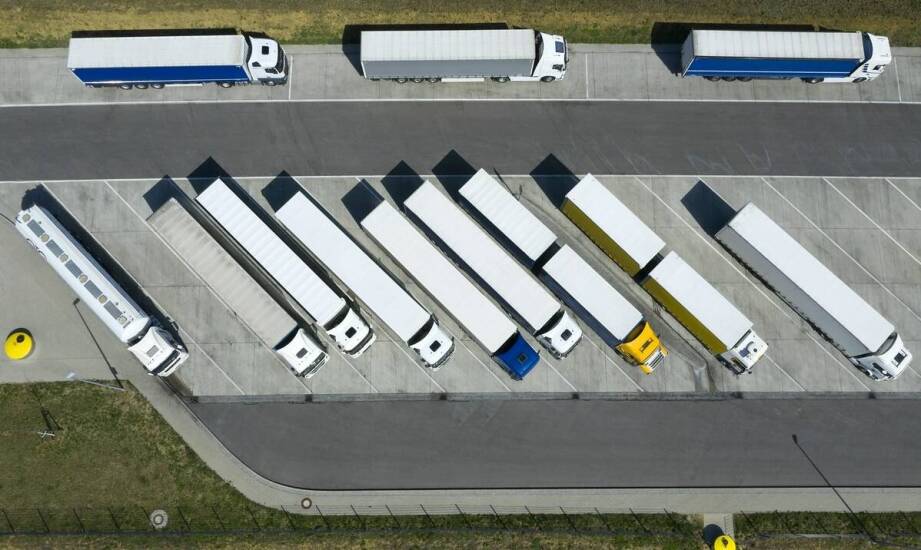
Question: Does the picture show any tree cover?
No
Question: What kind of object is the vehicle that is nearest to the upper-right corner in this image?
truck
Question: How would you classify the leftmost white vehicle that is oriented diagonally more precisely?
truck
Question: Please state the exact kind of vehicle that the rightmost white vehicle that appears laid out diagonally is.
truck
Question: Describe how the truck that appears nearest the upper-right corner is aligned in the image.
from left to right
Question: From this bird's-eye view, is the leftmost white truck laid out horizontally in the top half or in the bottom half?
top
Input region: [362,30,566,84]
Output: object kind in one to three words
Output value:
truck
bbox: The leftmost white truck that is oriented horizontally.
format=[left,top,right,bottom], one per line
[66,35,288,90]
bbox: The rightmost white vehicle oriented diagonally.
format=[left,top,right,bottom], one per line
[715,202,915,384]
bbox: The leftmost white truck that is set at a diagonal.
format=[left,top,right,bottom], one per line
[13,205,183,369]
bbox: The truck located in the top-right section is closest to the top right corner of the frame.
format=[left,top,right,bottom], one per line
[680,29,891,83]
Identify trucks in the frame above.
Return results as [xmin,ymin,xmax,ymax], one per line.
[458,169,665,375]
[715,202,915,384]
[560,174,766,374]
[13,205,183,369]
[66,35,288,90]
[196,178,377,357]
[361,201,542,384]
[404,182,585,361]
[276,192,459,371]
[362,30,566,84]
[680,29,891,83]
[148,199,331,380]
